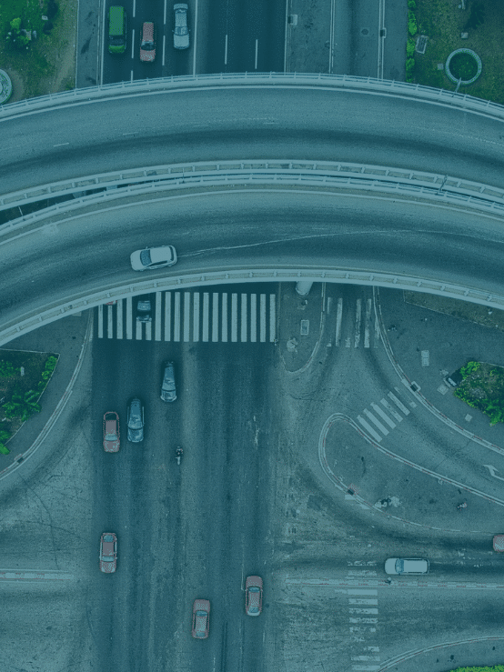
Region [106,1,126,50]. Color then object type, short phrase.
green vehicle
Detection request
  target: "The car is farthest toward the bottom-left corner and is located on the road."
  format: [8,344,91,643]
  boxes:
[98,532,117,574]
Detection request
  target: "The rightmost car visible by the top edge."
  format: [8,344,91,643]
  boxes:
[171,2,190,45]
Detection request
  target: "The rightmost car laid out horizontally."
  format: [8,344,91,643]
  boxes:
[386,556,429,576]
